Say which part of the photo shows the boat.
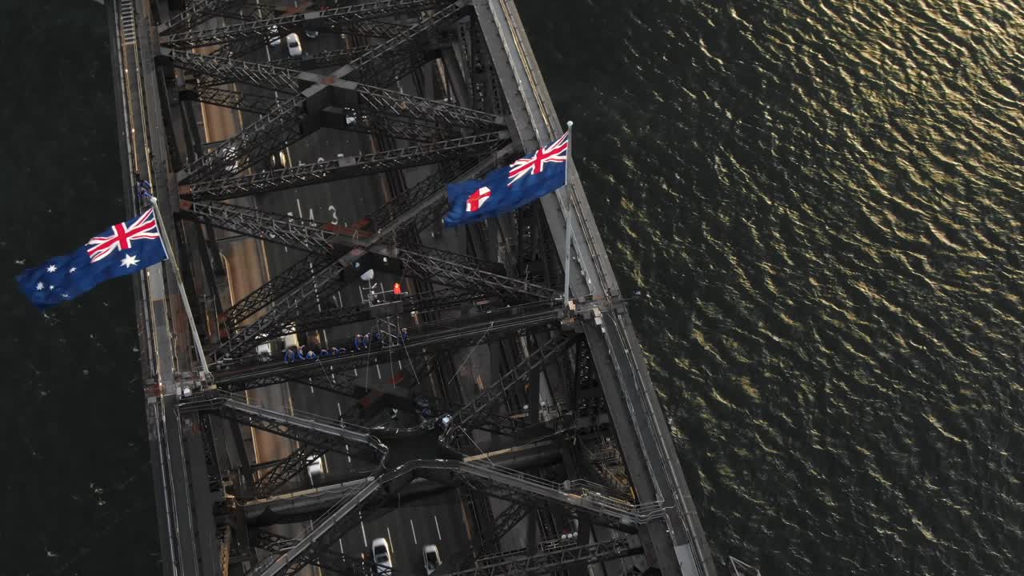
bottom right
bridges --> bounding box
[108,0,713,576]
